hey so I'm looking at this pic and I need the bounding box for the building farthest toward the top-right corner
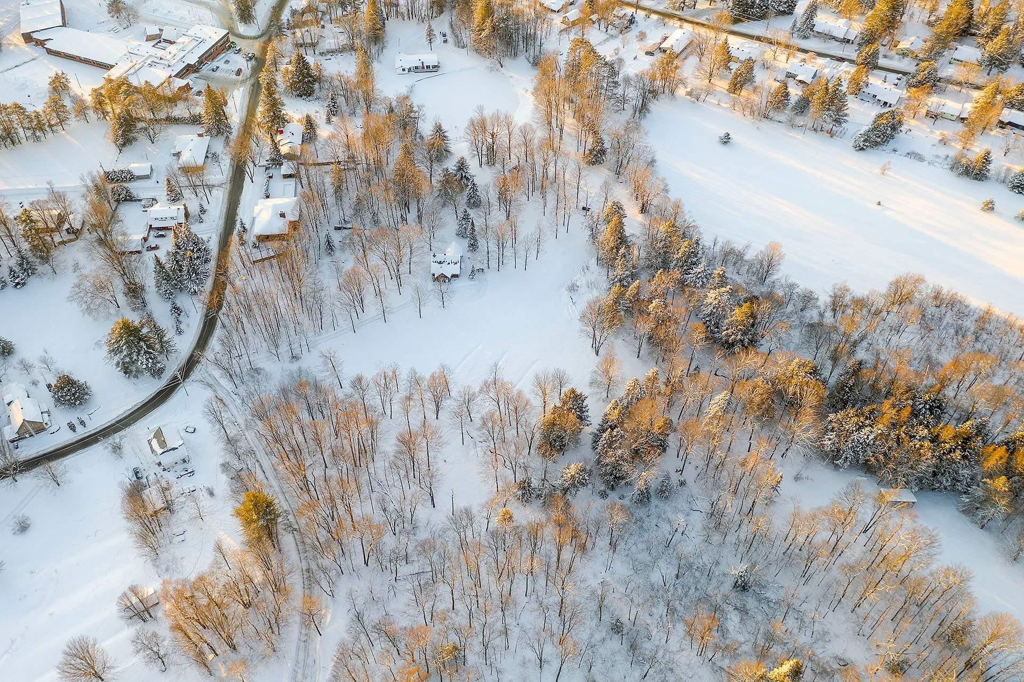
[952,47,987,70]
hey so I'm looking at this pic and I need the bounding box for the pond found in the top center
[404,76,526,121]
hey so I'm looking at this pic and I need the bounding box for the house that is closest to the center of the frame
[431,240,464,283]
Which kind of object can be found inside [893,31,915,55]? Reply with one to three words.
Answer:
building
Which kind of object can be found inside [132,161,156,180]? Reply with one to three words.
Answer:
shed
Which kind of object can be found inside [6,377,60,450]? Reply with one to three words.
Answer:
house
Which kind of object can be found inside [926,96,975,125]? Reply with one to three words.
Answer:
house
